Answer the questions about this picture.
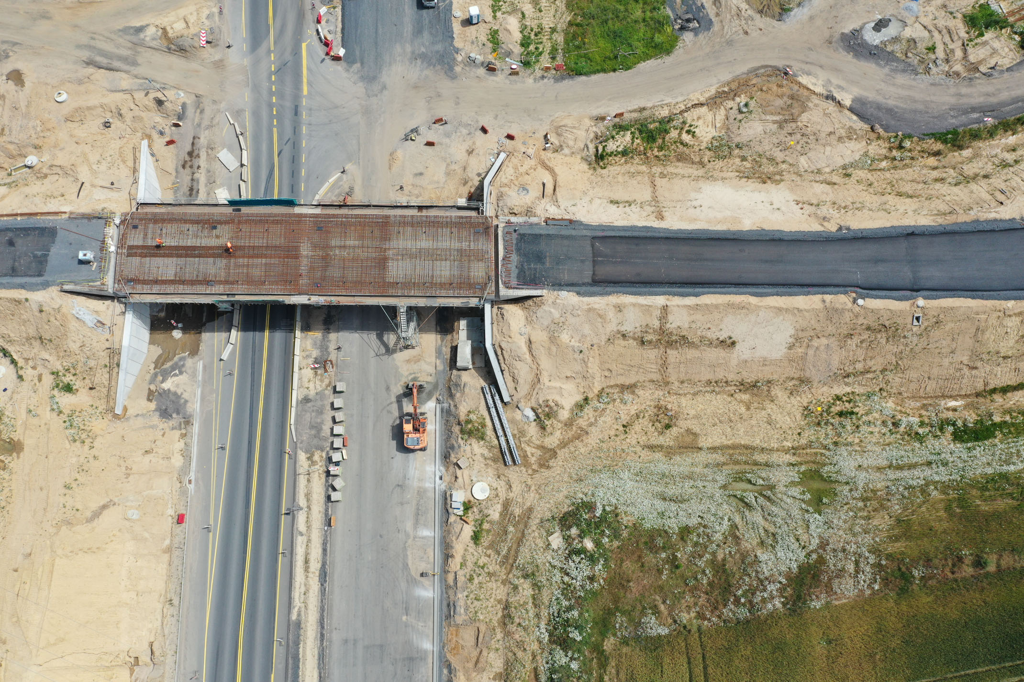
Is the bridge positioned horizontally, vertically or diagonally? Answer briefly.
horizontally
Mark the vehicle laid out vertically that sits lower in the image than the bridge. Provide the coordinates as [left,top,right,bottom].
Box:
[399,382,427,450]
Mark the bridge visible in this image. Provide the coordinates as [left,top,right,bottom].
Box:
[46,195,576,316]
